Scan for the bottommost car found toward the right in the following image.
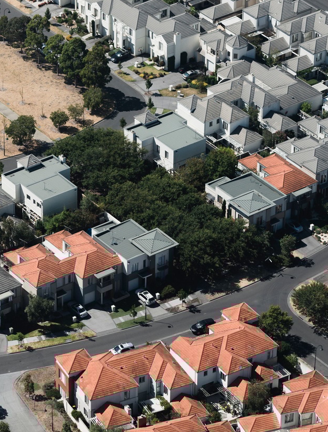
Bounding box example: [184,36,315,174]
[189,314,217,330]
